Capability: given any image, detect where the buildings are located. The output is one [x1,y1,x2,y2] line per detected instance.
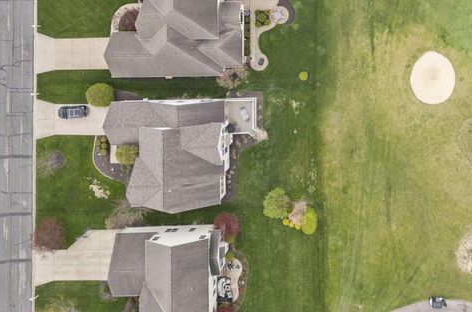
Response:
[108,225,234,312]
[103,98,231,214]
[104,0,245,81]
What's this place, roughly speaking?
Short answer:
golf course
